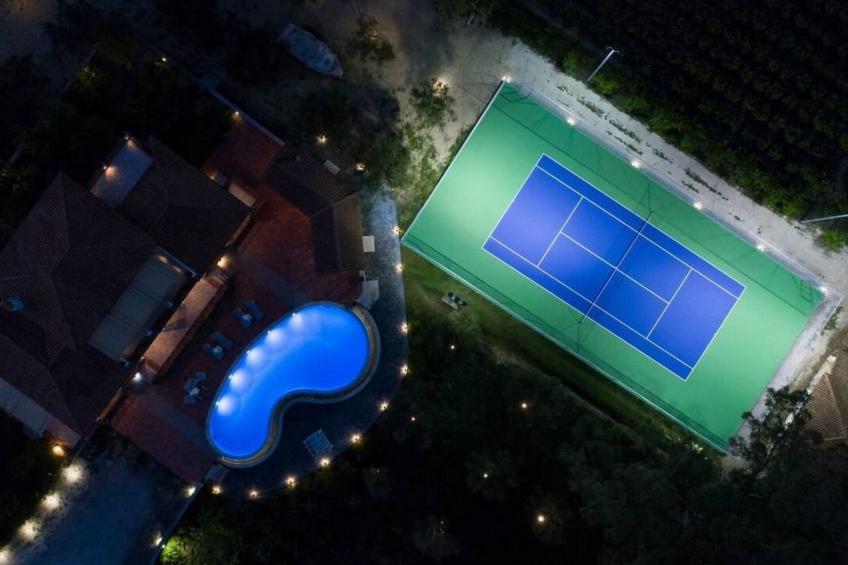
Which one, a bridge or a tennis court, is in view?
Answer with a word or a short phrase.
tennis court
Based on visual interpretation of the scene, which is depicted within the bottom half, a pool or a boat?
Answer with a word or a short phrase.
pool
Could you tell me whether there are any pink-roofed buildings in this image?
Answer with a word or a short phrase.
No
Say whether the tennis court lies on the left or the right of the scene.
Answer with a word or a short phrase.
right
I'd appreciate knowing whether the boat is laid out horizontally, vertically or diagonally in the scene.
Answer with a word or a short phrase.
diagonally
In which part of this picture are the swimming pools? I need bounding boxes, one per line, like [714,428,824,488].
[205,299,379,470]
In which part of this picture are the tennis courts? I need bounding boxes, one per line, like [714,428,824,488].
[402,82,828,450]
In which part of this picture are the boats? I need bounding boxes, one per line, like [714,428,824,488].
[279,26,341,72]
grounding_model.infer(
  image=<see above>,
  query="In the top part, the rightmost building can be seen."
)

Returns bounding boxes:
[263,142,375,272]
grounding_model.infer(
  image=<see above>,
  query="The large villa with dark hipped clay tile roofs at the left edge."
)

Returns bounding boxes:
[0,135,253,447]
